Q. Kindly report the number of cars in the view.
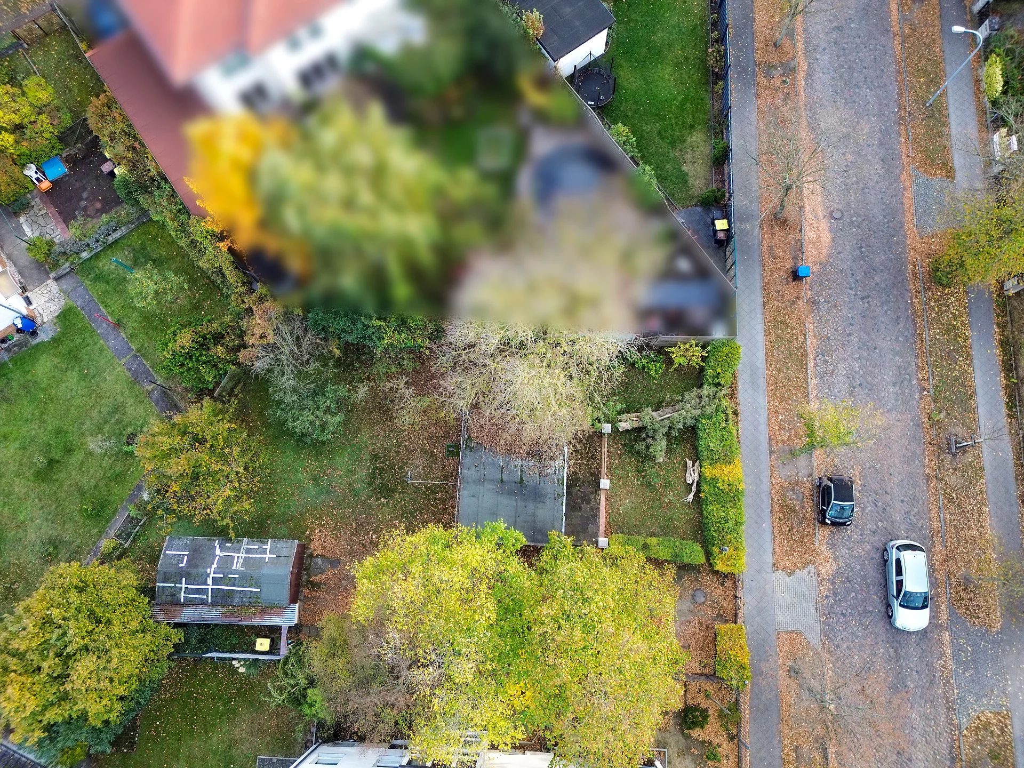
2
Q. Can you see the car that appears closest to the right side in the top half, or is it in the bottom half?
bottom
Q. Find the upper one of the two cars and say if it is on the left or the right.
right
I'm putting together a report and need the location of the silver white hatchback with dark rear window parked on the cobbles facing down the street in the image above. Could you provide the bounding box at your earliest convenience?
[879,538,936,633]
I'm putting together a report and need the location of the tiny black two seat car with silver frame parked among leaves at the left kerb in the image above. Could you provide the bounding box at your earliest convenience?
[814,473,862,529]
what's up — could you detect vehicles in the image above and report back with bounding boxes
[814,473,862,529]
[879,538,936,633]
